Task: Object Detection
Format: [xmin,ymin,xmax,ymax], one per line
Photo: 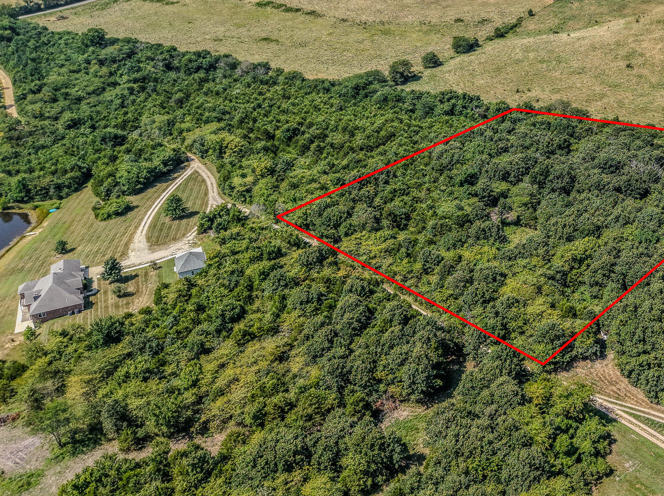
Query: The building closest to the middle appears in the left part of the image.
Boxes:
[174,250,208,280]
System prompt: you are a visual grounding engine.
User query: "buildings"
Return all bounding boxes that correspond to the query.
[174,250,208,280]
[18,258,88,325]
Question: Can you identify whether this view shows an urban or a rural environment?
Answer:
rural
